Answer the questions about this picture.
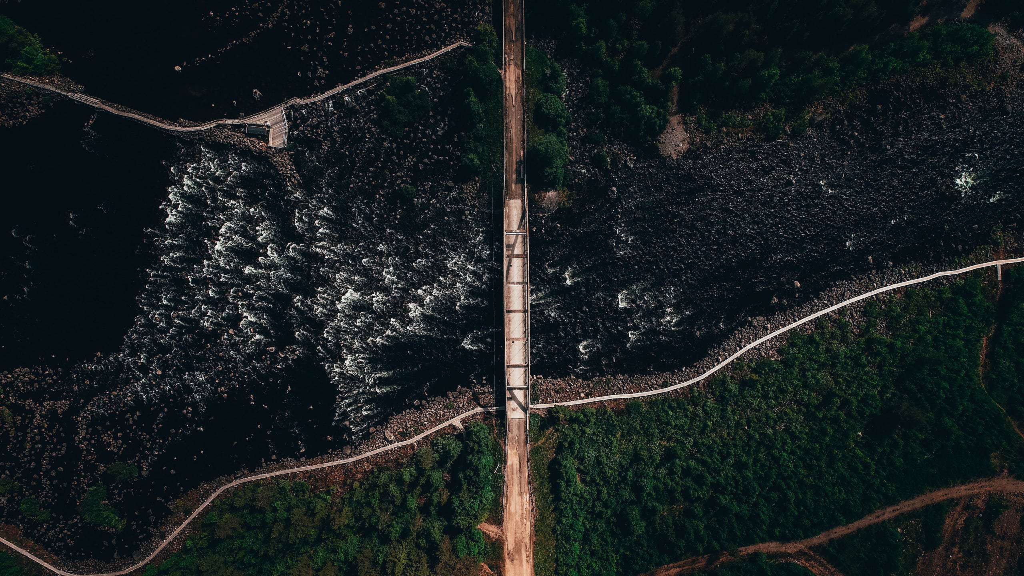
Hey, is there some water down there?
Yes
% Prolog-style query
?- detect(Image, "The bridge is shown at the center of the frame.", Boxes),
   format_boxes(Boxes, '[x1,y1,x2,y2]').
[503,199,531,419]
